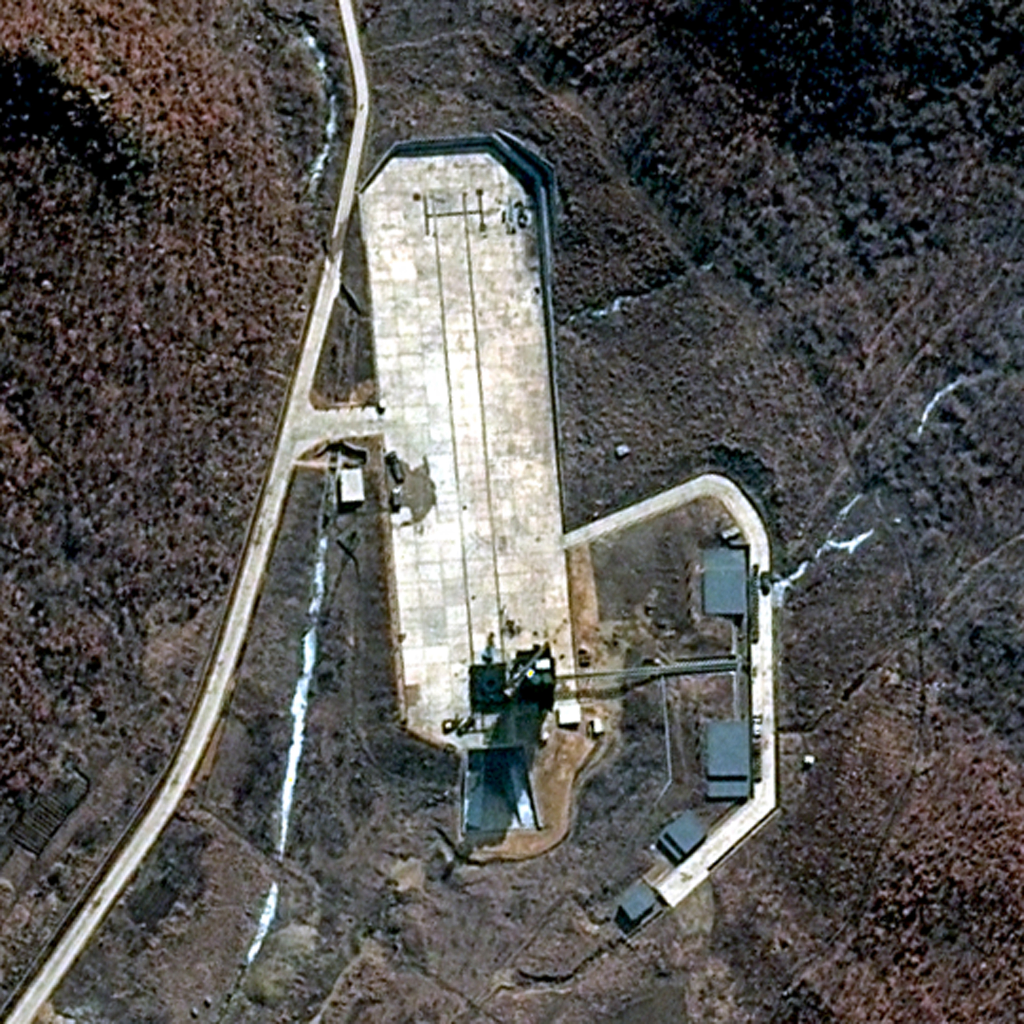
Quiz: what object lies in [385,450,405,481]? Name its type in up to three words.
vehicle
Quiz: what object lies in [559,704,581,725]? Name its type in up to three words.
building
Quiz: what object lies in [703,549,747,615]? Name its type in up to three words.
building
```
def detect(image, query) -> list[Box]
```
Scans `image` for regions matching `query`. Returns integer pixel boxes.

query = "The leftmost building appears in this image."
[341,469,365,504]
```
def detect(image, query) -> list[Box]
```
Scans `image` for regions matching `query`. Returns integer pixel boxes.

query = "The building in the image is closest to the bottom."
[620,880,655,921]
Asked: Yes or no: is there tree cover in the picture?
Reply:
Yes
